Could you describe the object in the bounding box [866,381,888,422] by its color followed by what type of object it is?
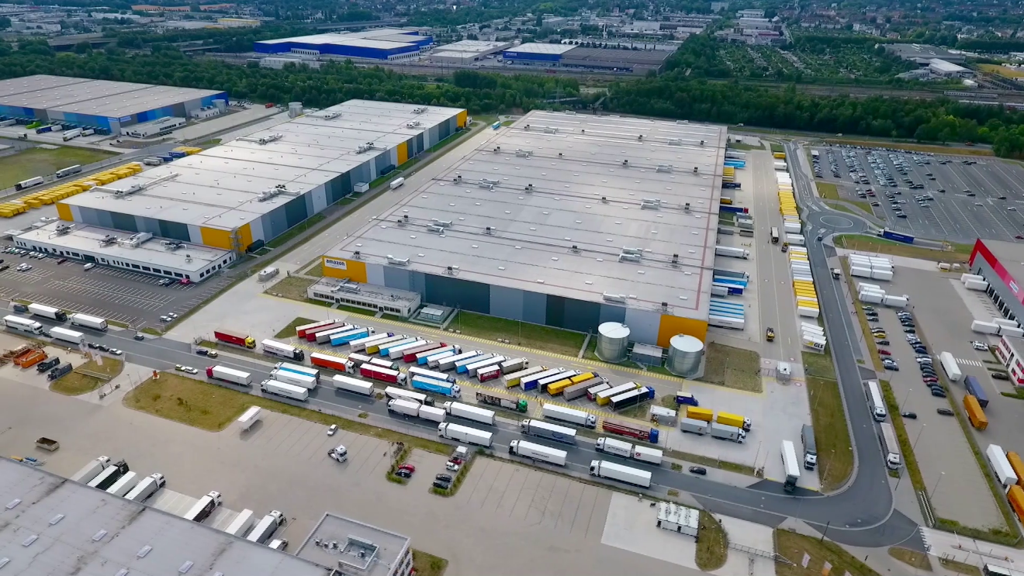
white truck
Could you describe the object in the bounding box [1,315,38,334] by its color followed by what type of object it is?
white vehicle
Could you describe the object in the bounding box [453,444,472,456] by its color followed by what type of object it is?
white vehicle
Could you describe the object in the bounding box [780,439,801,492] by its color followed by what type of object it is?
white truck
